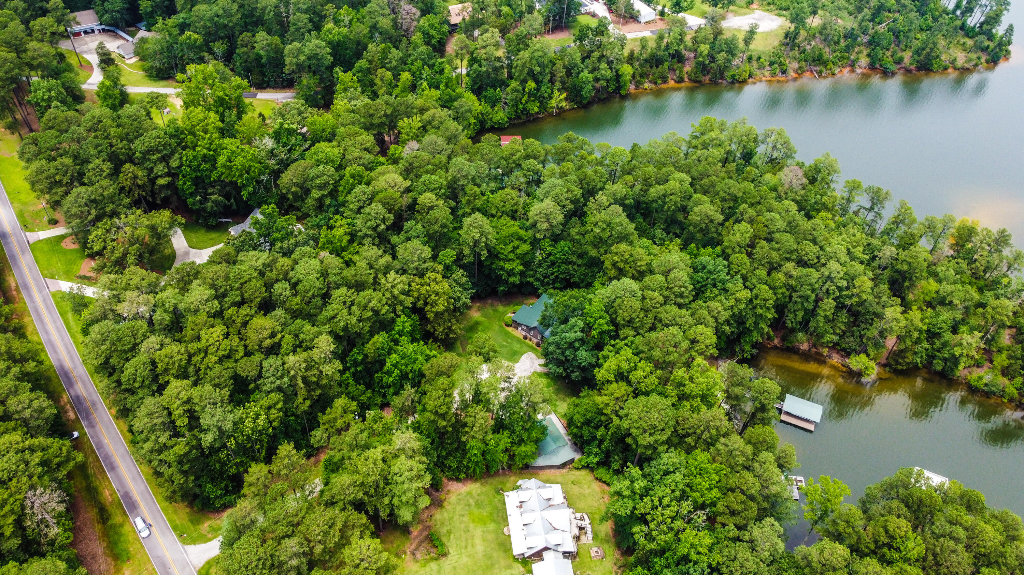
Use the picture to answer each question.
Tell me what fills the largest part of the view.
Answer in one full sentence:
What you mostly see from above here is trees.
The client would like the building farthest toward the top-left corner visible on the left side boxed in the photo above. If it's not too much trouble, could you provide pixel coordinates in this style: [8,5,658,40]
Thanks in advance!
[63,14,107,38]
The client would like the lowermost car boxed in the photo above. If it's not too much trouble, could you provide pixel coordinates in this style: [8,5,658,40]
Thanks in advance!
[132,520,148,540]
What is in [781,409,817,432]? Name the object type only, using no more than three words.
pier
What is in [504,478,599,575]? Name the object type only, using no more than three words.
house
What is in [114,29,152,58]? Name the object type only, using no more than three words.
house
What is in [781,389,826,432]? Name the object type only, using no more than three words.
building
